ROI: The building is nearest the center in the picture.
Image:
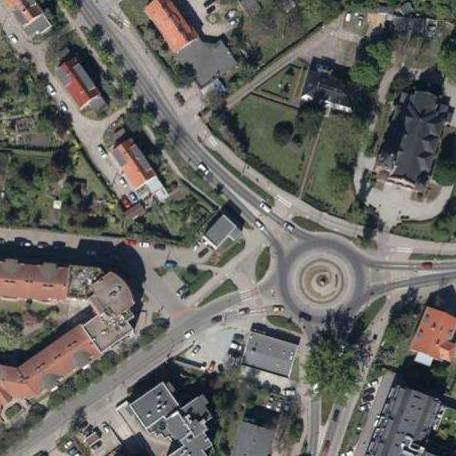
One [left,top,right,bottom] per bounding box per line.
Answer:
[199,216,241,250]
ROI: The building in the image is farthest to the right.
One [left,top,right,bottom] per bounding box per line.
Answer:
[411,306,456,367]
